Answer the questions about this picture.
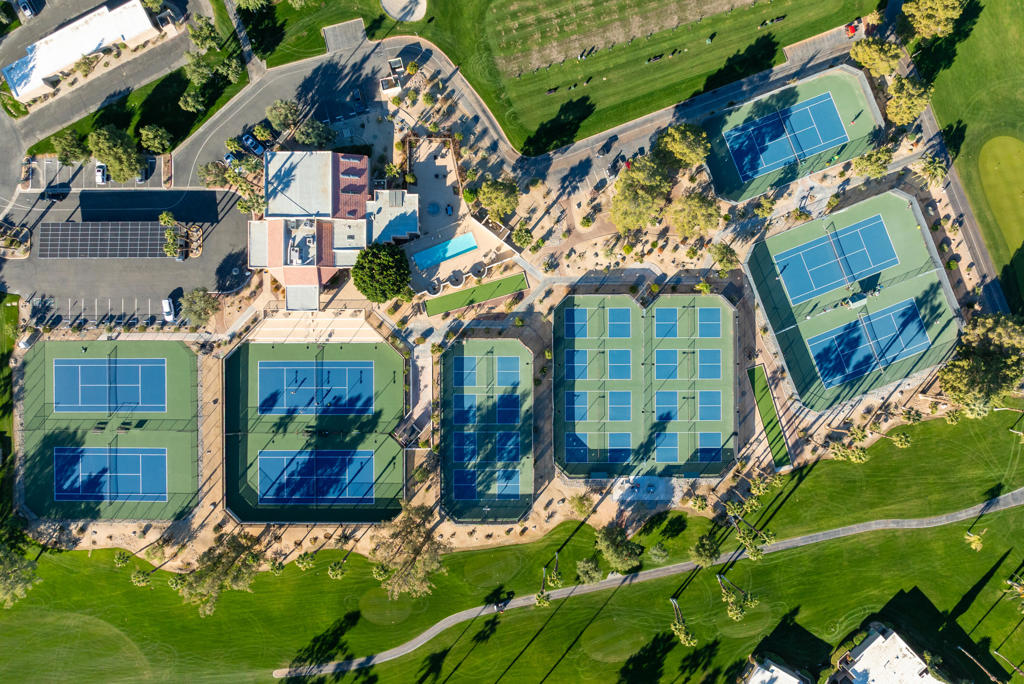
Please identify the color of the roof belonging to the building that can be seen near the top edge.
white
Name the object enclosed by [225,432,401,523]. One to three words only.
tennis court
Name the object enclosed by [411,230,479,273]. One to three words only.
swimming pool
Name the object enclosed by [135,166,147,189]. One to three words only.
vehicle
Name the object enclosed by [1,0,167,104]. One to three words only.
building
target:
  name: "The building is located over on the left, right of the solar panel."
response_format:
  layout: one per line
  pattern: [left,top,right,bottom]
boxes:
[247,150,421,311]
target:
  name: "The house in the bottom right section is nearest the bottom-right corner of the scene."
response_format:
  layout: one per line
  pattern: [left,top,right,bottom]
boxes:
[838,625,946,684]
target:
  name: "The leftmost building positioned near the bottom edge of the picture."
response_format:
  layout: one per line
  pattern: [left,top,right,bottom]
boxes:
[739,653,807,684]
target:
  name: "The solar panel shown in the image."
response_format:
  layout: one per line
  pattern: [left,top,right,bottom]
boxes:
[41,223,178,257]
